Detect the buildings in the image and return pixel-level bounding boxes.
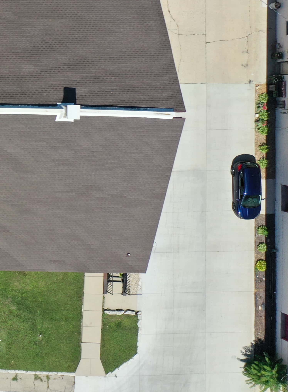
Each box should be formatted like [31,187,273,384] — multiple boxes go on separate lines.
[0,0,186,273]
[278,0,288,392]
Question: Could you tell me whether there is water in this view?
No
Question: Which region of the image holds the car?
right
